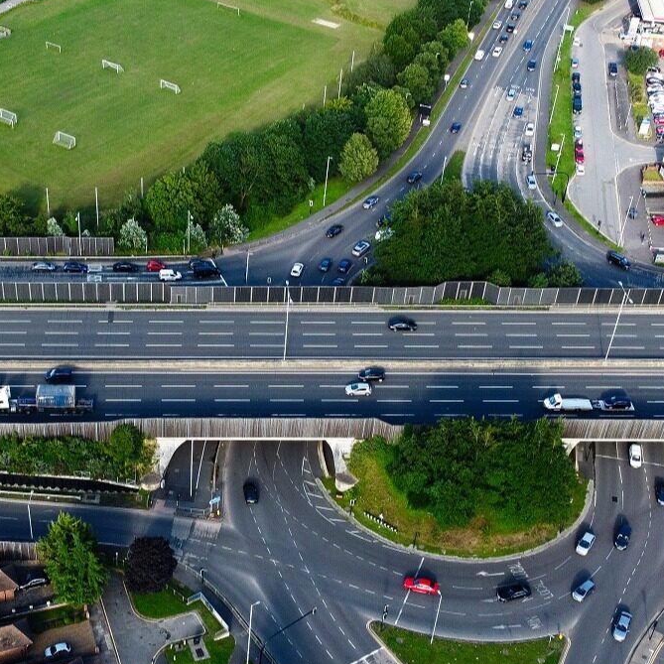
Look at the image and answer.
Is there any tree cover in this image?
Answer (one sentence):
Yes, tree cover shows up in the scene.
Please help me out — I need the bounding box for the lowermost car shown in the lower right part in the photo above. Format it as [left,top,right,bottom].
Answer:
[613,611,631,639]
